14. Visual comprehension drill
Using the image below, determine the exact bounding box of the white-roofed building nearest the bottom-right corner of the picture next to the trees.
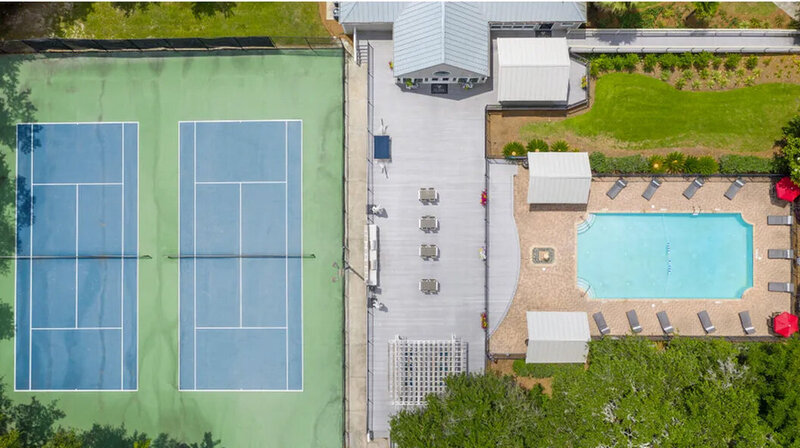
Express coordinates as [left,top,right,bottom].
[526,311,592,363]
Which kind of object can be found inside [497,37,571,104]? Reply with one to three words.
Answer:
building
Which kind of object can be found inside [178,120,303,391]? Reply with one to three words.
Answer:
tennis court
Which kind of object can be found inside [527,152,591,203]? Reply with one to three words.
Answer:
building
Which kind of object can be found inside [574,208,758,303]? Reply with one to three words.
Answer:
swimming pool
